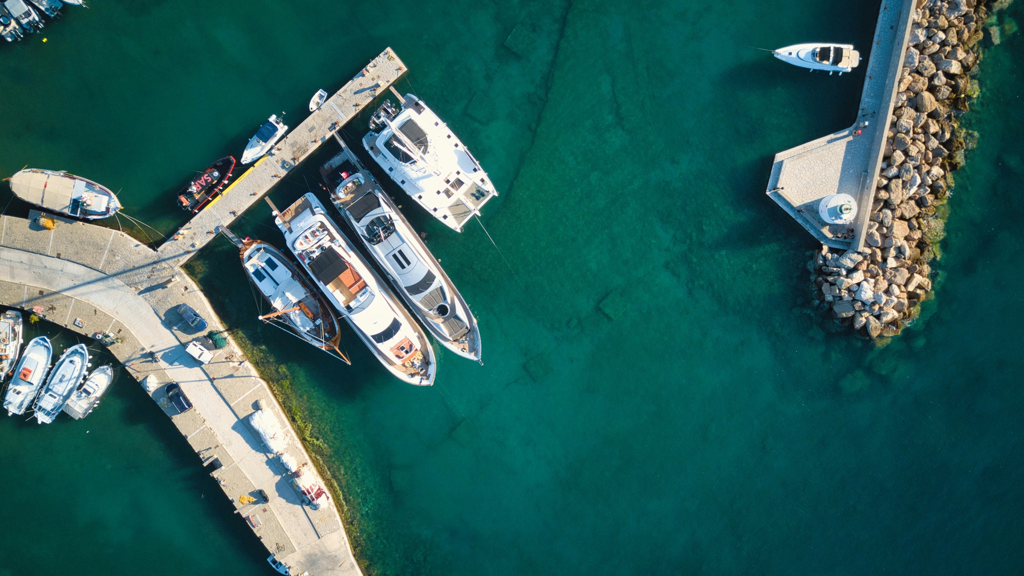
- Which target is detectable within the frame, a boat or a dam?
boat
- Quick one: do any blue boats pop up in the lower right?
No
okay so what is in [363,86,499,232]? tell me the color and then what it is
white boat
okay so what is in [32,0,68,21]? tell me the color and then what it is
blue boat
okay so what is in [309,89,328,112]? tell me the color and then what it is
white boat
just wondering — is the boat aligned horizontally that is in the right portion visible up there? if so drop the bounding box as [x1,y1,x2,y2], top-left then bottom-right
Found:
[772,41,863,74]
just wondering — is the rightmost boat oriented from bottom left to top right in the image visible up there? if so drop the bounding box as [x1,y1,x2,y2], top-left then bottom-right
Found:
[368,99,400,130]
